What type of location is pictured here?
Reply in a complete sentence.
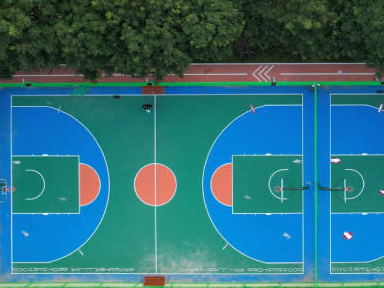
This image shows a sports ground.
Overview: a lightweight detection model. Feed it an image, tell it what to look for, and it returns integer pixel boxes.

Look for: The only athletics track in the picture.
[0,61,383,81]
